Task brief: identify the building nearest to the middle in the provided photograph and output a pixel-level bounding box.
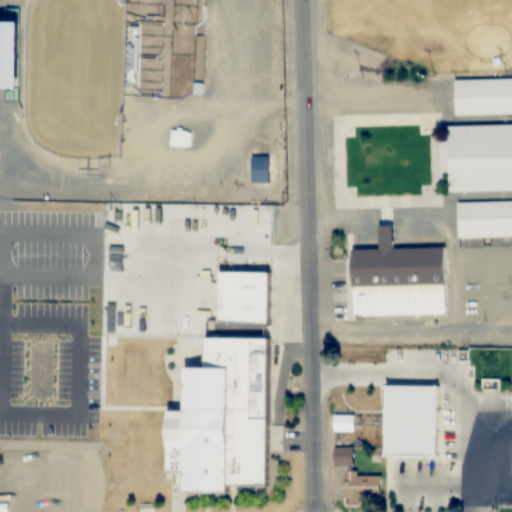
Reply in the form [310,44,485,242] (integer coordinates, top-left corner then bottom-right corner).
[218,271,270,322]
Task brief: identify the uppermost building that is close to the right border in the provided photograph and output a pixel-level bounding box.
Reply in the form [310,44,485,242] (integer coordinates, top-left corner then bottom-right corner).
[454,78,512,116]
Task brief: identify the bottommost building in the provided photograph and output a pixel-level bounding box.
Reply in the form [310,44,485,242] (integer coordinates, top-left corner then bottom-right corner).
[344,470,382,508]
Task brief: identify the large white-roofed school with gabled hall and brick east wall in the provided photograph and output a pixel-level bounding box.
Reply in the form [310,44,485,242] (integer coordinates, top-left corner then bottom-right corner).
[164,338,270,492]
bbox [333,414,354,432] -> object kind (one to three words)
building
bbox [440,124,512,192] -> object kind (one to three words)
barn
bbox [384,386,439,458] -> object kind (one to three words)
building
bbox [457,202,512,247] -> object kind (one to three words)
barn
